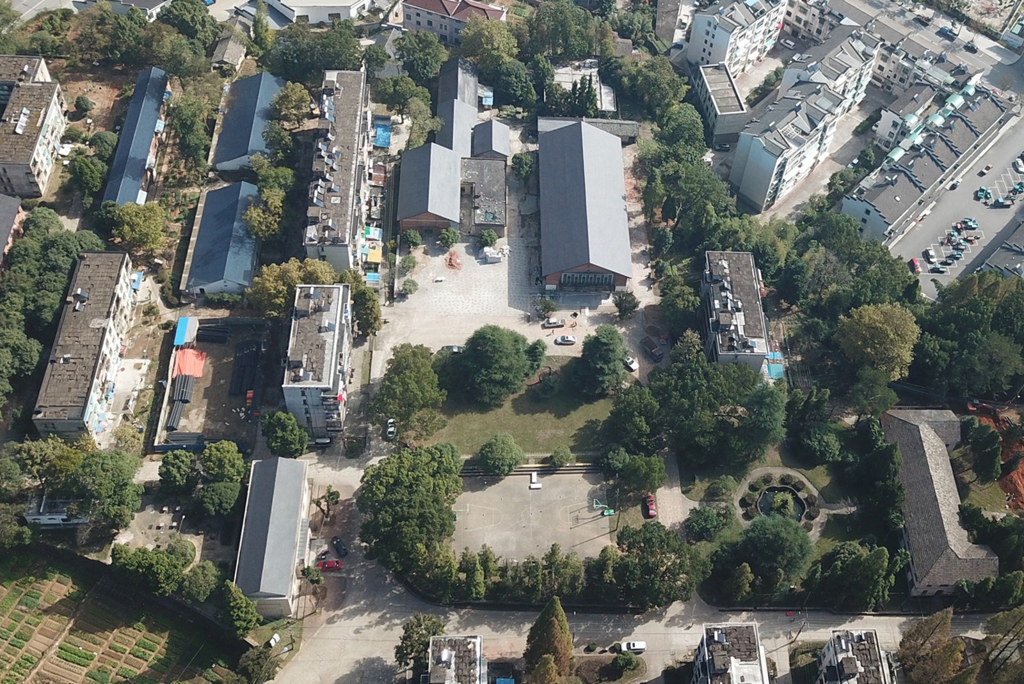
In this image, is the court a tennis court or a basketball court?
basketball court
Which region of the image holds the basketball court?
bottom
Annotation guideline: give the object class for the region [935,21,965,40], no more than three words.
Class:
vehicle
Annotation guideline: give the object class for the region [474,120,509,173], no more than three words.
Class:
building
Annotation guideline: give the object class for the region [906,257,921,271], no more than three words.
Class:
car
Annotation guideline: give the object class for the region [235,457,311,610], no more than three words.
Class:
house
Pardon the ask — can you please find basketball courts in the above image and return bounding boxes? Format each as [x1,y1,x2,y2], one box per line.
[450,474,618,555]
